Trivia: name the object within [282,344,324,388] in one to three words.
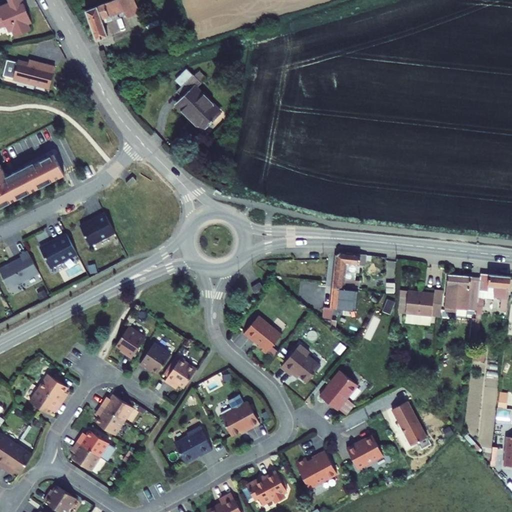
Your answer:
house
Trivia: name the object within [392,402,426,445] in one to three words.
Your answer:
house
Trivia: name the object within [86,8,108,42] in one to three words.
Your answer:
building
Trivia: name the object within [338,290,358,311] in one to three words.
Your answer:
barn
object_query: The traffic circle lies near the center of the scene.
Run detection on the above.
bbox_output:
[150,174,282,294]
